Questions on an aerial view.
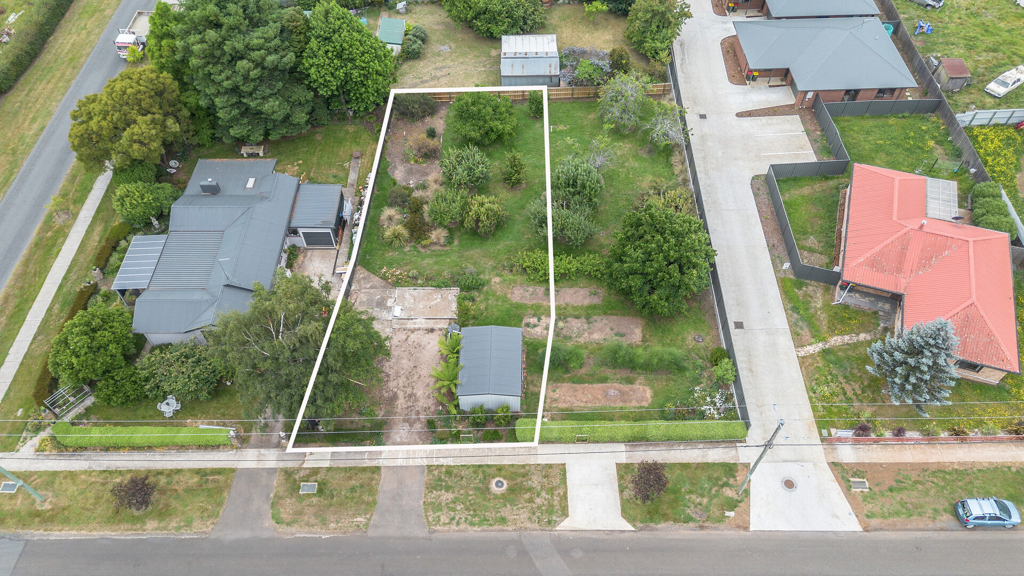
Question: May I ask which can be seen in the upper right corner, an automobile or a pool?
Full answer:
There is an automobile in the upper right corner.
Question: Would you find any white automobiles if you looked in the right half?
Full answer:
Yes, there is a white automobile in the right half.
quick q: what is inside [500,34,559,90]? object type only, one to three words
shed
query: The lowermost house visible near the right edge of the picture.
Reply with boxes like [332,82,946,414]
[832,162,1022,384]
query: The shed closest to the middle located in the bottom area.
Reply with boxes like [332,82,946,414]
[457,325,523,411]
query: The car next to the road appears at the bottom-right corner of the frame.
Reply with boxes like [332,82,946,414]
[950,493,1022,529]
